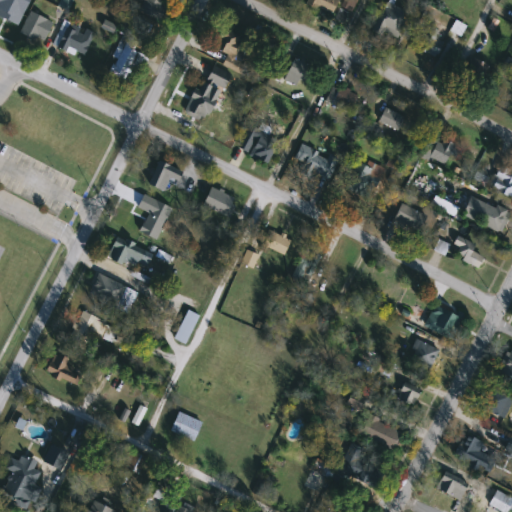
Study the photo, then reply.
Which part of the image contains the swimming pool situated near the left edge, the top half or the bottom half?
bottom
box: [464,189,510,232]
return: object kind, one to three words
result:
house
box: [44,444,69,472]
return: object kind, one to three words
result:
building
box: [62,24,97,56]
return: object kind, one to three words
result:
house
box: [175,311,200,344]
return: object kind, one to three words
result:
barn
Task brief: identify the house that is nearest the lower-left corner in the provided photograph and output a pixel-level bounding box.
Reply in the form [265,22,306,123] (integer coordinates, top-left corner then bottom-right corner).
[4,456,44,512]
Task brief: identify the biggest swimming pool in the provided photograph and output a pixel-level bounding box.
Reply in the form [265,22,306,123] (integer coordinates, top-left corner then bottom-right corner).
[22,422,49,444]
